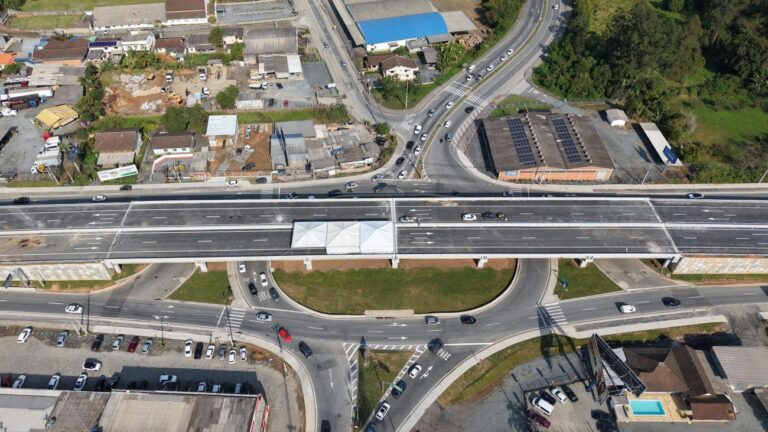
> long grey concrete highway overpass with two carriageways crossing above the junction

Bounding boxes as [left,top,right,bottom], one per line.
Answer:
[0,199,768,267]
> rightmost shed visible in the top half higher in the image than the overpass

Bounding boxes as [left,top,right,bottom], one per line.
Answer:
[640,123,680,172]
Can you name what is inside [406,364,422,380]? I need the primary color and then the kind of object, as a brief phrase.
white car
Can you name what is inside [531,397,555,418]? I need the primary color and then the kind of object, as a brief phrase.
white vehicle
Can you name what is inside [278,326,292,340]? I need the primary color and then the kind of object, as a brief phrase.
red car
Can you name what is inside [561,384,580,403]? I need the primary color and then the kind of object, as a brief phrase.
black car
